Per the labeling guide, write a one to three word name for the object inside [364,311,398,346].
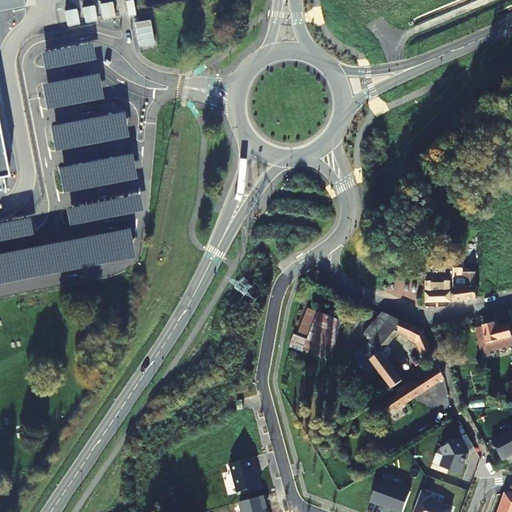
barn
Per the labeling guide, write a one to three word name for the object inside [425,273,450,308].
house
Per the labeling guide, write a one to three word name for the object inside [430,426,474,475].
house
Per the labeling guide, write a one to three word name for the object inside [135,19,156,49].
building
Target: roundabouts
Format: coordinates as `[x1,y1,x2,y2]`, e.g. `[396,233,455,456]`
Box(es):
[228,0,402,194]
